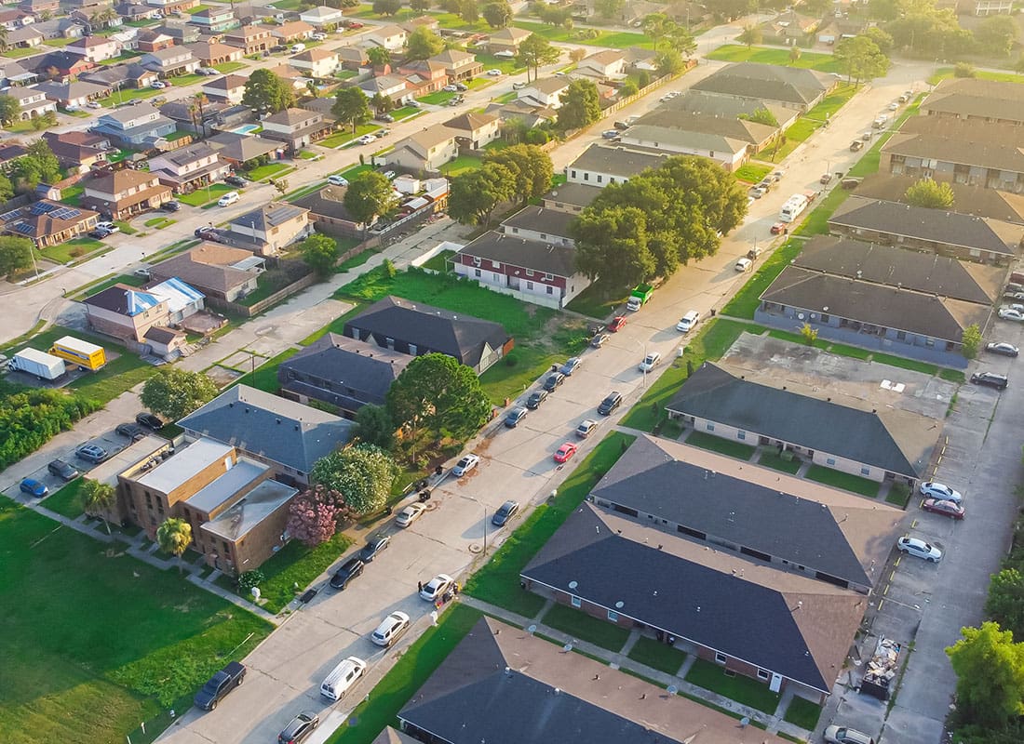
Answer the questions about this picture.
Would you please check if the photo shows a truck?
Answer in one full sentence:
Yes, looking at the shot, I can spot a truck.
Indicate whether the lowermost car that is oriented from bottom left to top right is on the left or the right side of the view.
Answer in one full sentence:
The lowermost car that is oriented from bottom left to top right appears in the left half of the scene.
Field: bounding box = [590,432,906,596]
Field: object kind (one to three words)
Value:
building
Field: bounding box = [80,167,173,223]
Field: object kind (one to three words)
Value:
house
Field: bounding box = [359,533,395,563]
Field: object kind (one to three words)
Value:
car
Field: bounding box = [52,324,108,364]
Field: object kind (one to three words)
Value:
truck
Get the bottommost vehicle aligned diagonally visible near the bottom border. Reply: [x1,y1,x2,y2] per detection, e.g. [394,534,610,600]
[264,711,310,744]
